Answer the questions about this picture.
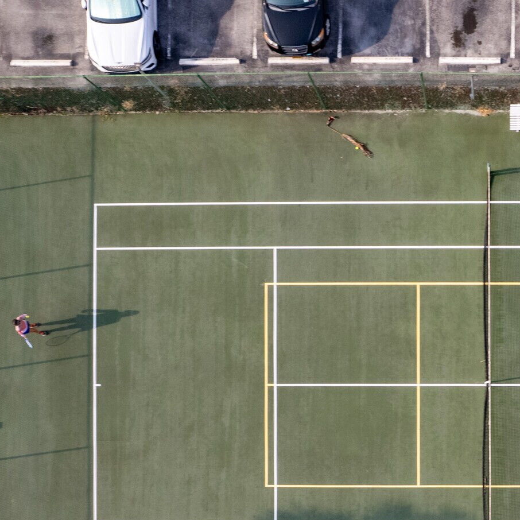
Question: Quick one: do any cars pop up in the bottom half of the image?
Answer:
No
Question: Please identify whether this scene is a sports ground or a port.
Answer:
sports ground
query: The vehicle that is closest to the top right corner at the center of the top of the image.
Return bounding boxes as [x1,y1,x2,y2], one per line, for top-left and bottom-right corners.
[263,0,327,59]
